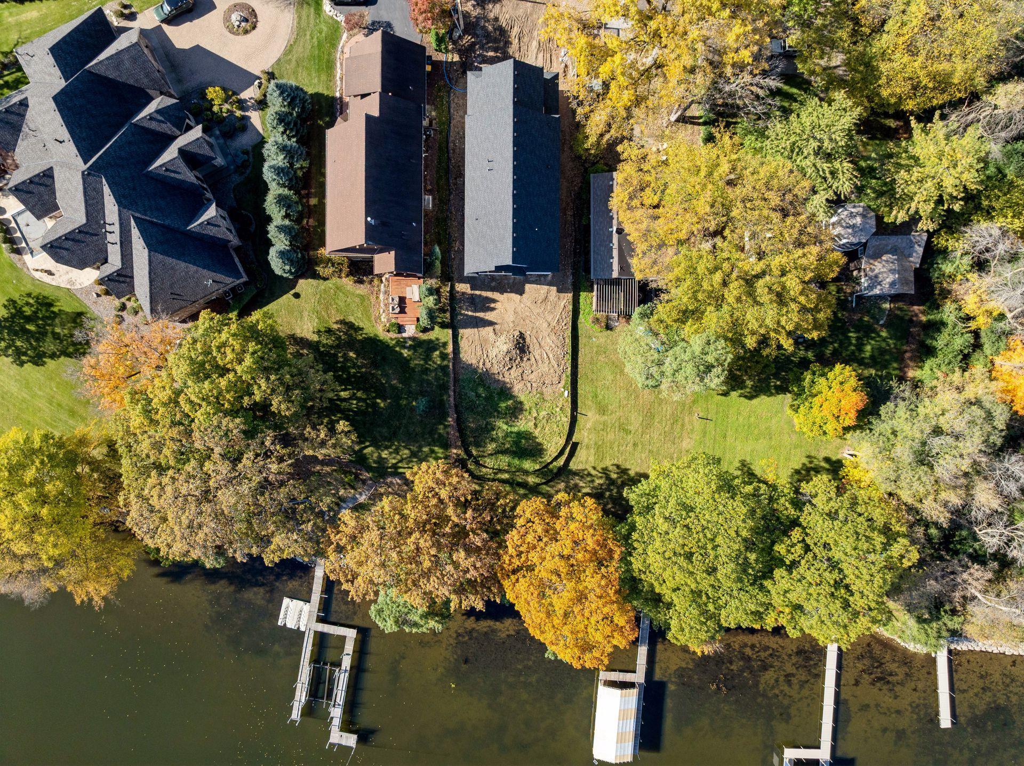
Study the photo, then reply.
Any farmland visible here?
No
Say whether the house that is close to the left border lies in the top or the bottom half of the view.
top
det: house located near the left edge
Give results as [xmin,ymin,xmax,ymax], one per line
[0,6,250,322]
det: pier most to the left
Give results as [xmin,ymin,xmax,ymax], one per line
[288,558,358,754]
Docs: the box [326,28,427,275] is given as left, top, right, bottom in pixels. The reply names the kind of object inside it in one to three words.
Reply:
house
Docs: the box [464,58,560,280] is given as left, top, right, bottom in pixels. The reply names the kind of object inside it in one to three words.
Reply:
house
